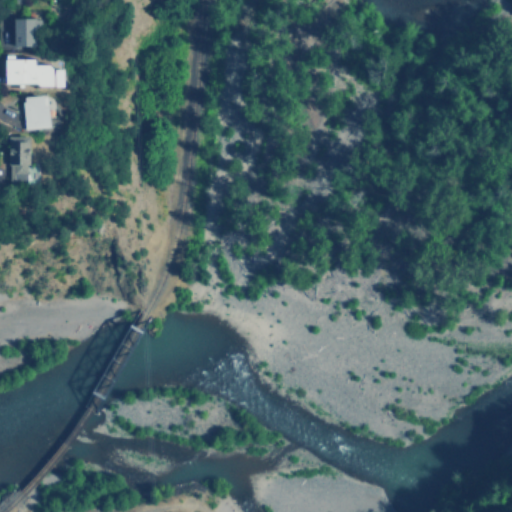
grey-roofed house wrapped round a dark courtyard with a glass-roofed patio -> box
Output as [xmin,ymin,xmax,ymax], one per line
[10,137,40,182]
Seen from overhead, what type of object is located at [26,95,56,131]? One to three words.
house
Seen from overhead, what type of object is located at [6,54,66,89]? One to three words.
house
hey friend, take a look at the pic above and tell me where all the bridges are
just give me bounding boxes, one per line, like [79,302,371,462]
[16,308,154,498]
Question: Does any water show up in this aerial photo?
Yes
